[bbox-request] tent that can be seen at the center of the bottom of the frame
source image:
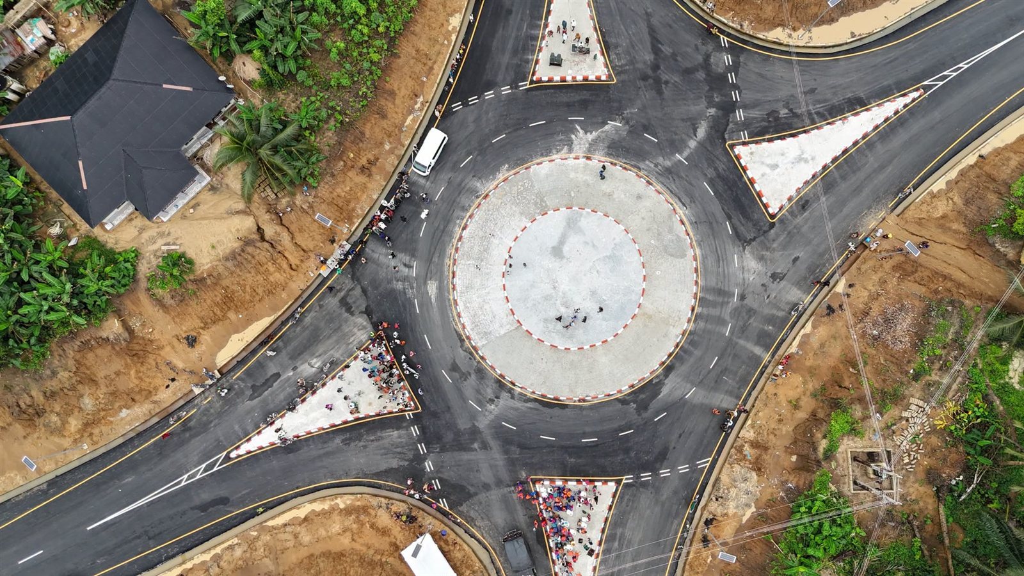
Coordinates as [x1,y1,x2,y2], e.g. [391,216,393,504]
[401,527,459,576]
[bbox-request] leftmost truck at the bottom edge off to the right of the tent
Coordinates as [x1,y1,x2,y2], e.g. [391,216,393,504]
[503,526,537,576]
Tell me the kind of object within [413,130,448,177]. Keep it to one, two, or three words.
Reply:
vehicle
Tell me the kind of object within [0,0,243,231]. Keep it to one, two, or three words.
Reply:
house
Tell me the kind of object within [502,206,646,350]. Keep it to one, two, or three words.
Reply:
roundabout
